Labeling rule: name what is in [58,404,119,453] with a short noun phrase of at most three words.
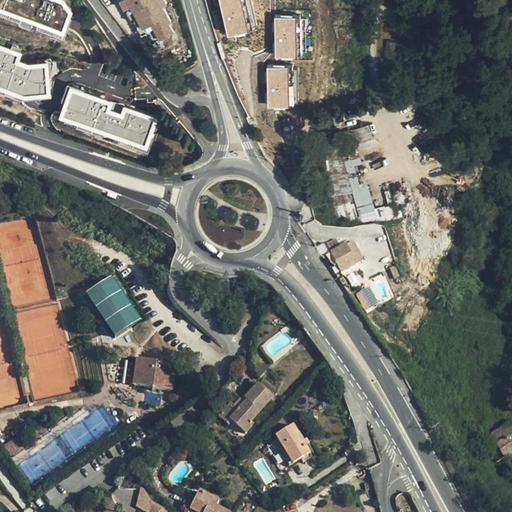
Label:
sports court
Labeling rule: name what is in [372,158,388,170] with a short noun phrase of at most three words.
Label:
vehicle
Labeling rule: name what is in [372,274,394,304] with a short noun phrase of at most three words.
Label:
swimming pool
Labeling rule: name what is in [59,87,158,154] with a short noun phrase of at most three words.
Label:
building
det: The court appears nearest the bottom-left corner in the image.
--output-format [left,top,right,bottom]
[19,434,73,482]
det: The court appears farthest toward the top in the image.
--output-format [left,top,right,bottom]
[0,219,56,308]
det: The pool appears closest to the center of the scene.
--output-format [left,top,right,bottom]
[262,326,298,362]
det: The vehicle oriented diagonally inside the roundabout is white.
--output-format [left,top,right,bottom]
[203,241,224,258]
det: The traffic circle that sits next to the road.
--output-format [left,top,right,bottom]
[179,157,300,278]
